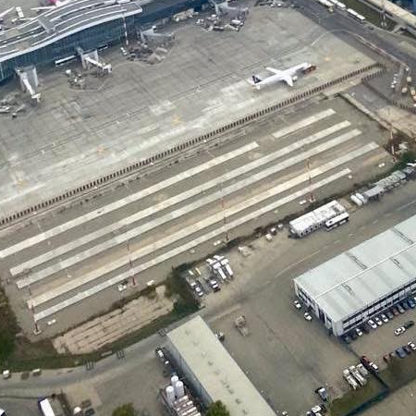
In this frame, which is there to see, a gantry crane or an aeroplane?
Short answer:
aeroplane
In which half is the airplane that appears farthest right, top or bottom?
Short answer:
top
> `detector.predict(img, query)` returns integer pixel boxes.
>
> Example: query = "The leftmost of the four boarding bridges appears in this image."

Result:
[21,68,43,105]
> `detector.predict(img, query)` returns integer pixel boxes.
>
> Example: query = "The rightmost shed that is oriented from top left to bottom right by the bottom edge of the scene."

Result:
[166,314,276,416]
